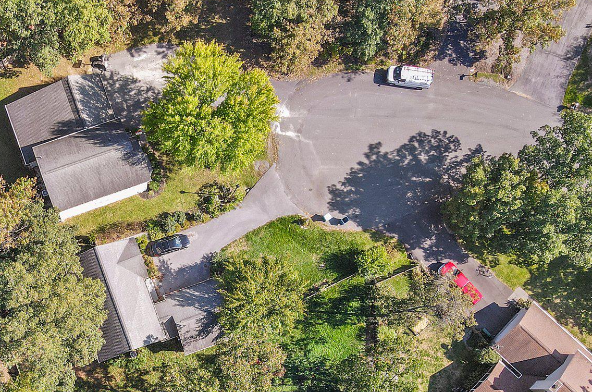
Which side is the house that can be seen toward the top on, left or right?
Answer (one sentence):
The house that can be seen toward the top is on the left side of the image.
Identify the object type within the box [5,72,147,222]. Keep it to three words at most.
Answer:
house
